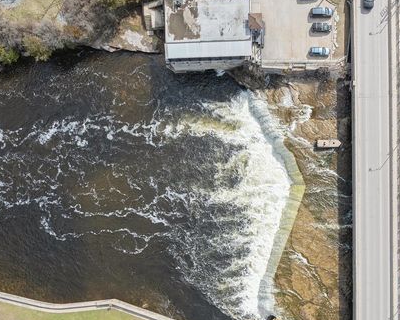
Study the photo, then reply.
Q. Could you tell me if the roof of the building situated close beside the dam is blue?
No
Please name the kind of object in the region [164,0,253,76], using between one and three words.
building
